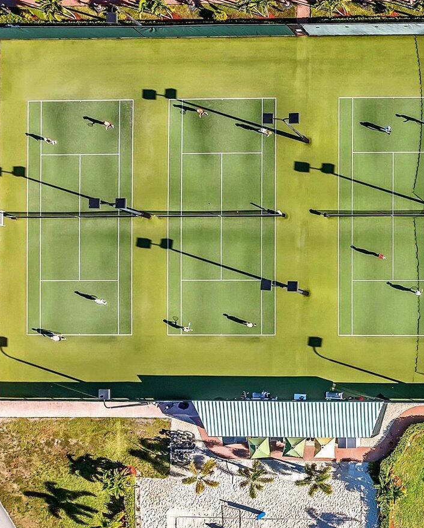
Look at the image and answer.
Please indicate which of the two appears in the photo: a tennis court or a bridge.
tennis court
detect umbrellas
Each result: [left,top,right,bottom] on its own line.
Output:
[286,437,307,458]
[250,437,271,458]
[315,437,336,457]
